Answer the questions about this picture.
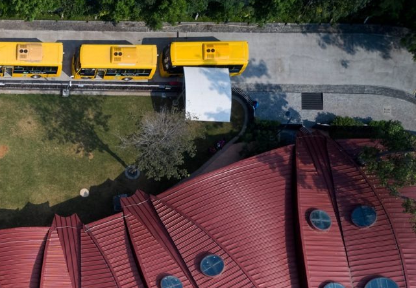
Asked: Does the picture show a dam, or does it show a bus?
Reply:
bus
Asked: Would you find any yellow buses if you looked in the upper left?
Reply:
Yes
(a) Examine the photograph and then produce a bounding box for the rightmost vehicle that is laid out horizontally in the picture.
[152,41,247,79]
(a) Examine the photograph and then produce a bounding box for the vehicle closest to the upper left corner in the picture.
[0,41,63,79]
